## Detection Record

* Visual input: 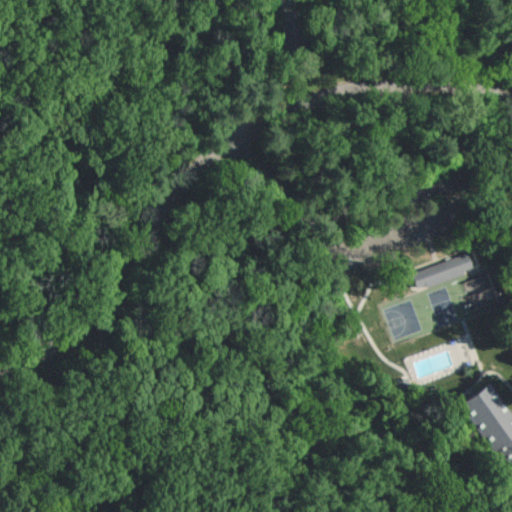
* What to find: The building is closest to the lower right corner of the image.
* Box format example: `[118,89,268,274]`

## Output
[468,387,512,463]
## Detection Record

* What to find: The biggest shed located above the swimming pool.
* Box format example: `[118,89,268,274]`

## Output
[419,254,475,288]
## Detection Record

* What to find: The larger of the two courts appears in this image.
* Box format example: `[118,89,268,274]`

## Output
[384,300,422,340]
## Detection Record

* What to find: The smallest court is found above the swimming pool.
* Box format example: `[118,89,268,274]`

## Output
[428,288,455,320]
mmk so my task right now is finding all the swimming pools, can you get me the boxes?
[404,343,476,384]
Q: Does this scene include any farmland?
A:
No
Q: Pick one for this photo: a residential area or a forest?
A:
forest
